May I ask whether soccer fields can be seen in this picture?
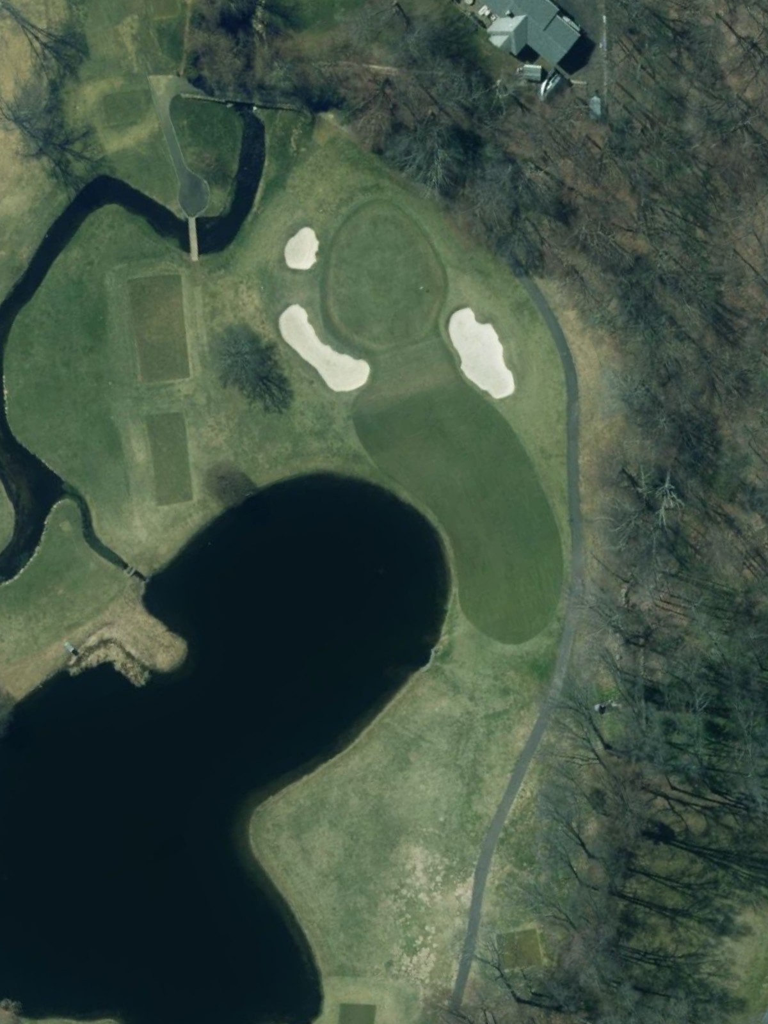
No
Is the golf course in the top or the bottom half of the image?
top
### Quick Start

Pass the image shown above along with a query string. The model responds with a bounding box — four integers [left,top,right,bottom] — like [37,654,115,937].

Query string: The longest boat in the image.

[543,67,562,98]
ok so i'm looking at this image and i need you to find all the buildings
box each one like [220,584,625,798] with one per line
[483,0,580,63]
[524,63,541,80]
